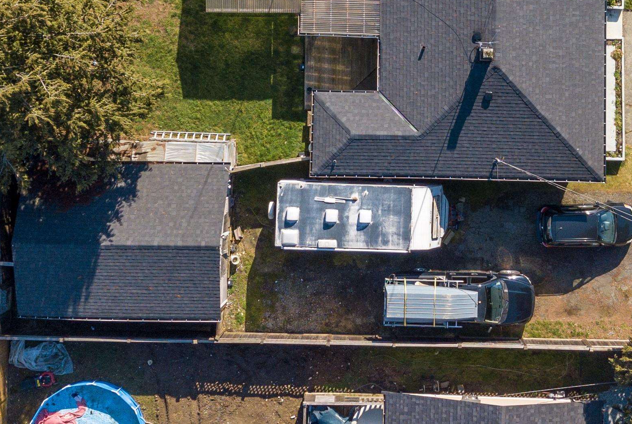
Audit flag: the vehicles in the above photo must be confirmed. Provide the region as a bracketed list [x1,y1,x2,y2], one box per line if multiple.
[384,272,536,330]
[537,200,632,251]
[268,179,451,254]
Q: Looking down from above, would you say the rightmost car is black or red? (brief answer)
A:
black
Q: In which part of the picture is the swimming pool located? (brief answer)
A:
bottom left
